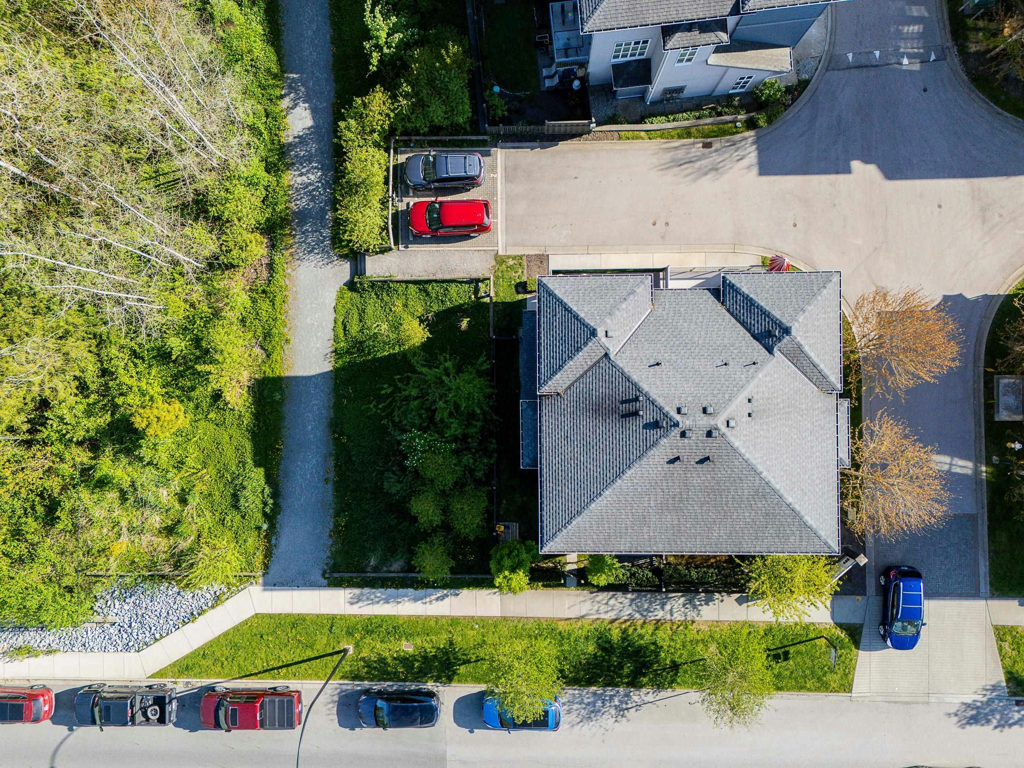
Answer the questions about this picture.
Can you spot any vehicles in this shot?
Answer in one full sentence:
Yes, you can see a vehicle in this photo.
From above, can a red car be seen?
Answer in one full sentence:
Yes, you can see a red car in this photo.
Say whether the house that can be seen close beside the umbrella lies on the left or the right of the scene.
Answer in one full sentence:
The house that can be seen close beside the umbrella appears in the right half of the scene.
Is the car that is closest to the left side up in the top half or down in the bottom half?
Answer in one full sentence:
You can find the car that is closest to the left side in the bottom half.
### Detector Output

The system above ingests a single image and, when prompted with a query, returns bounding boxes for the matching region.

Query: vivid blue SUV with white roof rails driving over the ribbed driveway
[880,567,928,652]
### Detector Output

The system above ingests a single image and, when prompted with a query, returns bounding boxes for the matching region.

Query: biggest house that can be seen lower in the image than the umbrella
[518,268,854,557]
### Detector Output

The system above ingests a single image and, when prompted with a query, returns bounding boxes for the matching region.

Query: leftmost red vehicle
[0,685,54,724]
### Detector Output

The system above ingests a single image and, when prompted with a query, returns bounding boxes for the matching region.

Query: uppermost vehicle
[404,147,485,189]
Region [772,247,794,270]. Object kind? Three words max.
umbrella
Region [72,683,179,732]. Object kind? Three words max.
truck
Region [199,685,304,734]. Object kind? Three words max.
truck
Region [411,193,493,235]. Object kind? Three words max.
car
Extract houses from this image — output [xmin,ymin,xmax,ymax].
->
[574,0,856,105]
[518,268,854,557]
